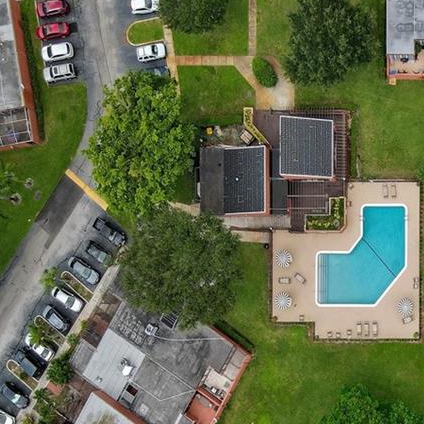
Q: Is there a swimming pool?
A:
Yes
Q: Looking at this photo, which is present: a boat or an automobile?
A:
automobile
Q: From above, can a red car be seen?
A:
Yes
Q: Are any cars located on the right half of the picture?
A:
No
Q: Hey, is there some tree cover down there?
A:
Yes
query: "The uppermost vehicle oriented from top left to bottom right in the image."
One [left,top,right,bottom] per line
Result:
[90,214,127,247]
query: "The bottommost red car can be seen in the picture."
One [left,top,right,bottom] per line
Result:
[37,23,72,42]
